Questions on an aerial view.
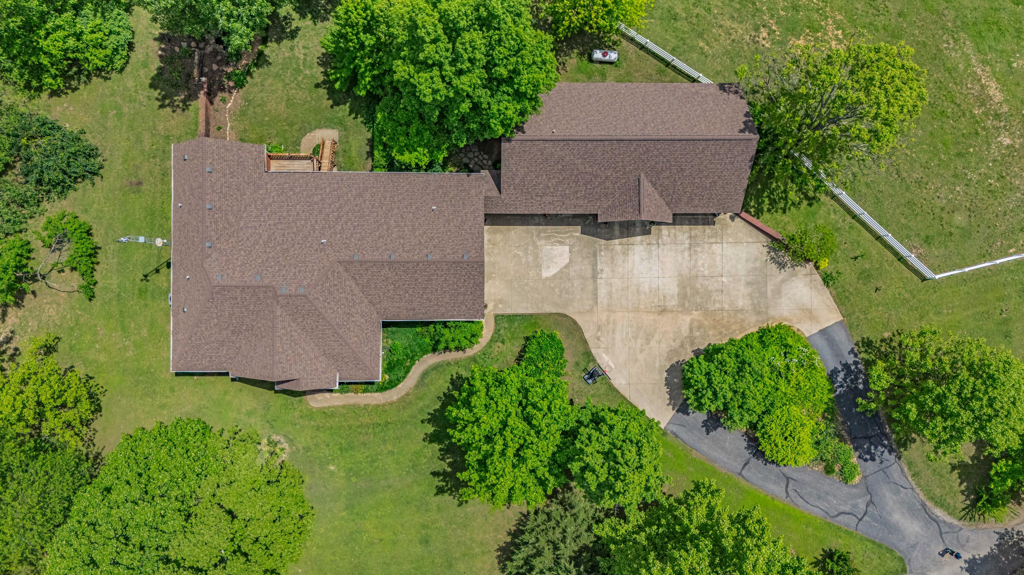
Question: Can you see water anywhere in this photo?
No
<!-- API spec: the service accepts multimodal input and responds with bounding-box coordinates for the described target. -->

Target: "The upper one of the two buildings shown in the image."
[481,82,760,222]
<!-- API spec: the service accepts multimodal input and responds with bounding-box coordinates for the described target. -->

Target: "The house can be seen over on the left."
[169,137,485,392]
